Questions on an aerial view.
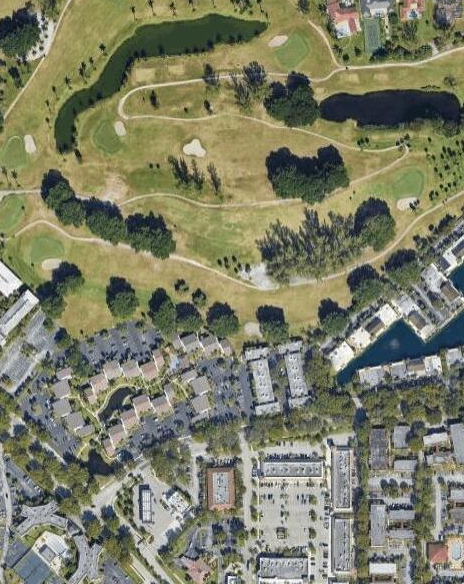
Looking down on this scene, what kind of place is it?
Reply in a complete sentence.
What you see here is a golf course.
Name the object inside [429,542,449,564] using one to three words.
house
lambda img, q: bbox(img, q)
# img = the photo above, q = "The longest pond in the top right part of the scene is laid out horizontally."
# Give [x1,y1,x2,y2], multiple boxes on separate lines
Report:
[322,91,460,126]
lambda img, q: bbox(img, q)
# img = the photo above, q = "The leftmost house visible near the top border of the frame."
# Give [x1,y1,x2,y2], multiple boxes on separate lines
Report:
[327,0,360,31]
